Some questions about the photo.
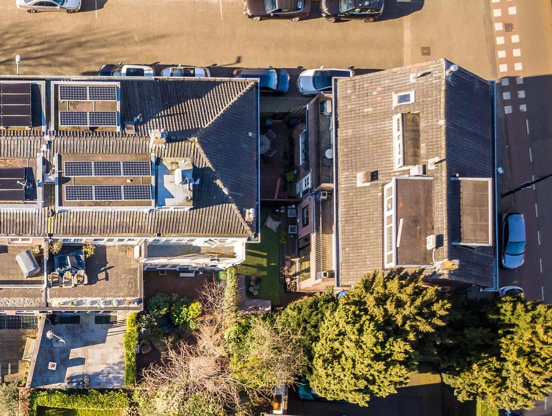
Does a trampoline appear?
No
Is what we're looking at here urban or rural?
urban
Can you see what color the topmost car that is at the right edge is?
blue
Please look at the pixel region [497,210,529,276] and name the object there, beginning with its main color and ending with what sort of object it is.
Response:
blue car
